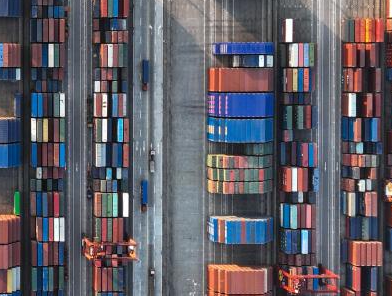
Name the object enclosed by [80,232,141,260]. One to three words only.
container crane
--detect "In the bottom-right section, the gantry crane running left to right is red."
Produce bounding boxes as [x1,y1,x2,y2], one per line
[271,263,338,293]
